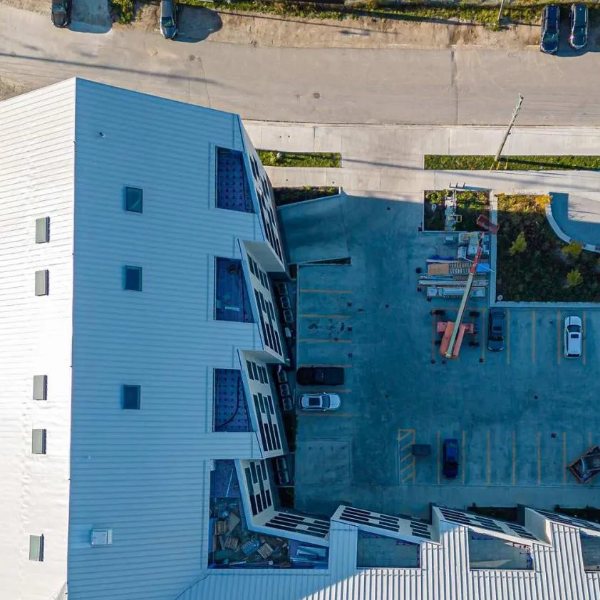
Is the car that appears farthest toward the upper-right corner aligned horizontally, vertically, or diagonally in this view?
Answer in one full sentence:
In this picture, the car that appears farthest toward the upper-right corner lies vertically.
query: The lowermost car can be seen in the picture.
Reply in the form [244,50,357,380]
[441,437,461,478]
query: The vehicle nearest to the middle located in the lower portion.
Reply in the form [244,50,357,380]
[296,365,346,386]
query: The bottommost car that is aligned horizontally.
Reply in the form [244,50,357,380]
[299,392,341,412]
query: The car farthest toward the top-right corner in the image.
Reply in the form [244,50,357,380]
[568,3,590,50]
